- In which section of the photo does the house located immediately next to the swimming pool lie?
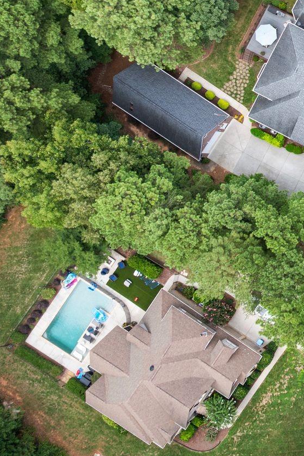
bottom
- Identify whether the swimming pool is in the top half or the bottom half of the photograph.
bottom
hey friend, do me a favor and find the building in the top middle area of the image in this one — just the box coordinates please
[112,61,233,160]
